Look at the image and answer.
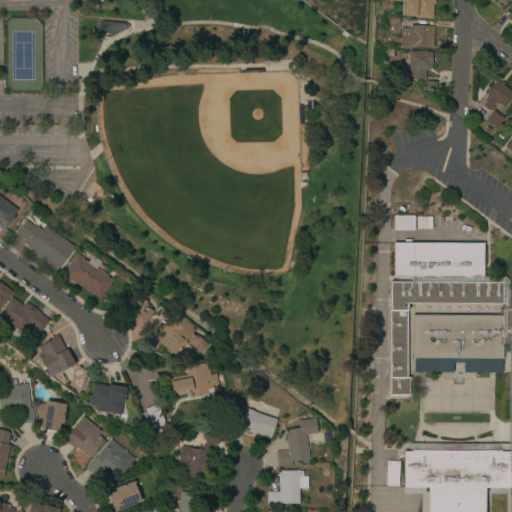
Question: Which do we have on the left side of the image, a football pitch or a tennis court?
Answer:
tennis court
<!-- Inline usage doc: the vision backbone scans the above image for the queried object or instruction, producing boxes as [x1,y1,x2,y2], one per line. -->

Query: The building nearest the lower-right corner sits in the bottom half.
[406,450,512,512]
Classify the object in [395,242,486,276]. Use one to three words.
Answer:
building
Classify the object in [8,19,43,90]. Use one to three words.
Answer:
tennis court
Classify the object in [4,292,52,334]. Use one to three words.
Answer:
house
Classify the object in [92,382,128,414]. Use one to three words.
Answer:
house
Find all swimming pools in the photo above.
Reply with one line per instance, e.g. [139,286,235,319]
[36,386,54,401]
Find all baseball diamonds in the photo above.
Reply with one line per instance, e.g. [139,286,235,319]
[98,72,302,274]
